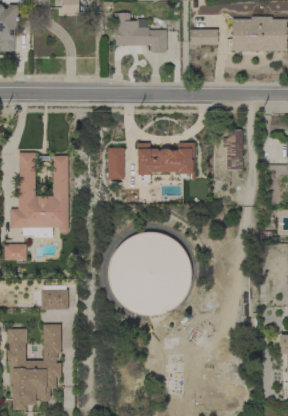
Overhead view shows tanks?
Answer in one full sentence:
Yes, a tank is visible in the scene.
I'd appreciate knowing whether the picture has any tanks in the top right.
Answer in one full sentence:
No, there is no tank in the top right.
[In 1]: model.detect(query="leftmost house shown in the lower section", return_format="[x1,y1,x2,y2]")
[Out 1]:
[4,243,26,260]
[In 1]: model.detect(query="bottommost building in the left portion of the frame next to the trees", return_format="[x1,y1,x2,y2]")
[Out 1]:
[8,324,62,410]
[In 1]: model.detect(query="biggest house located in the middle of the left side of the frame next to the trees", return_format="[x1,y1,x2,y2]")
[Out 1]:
[11,151,70,232]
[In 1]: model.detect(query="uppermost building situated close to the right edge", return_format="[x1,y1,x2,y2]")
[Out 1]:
[233,16,288,50]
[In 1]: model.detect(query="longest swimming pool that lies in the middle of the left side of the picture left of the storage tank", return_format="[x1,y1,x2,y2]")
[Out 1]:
[35,242,60,258]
